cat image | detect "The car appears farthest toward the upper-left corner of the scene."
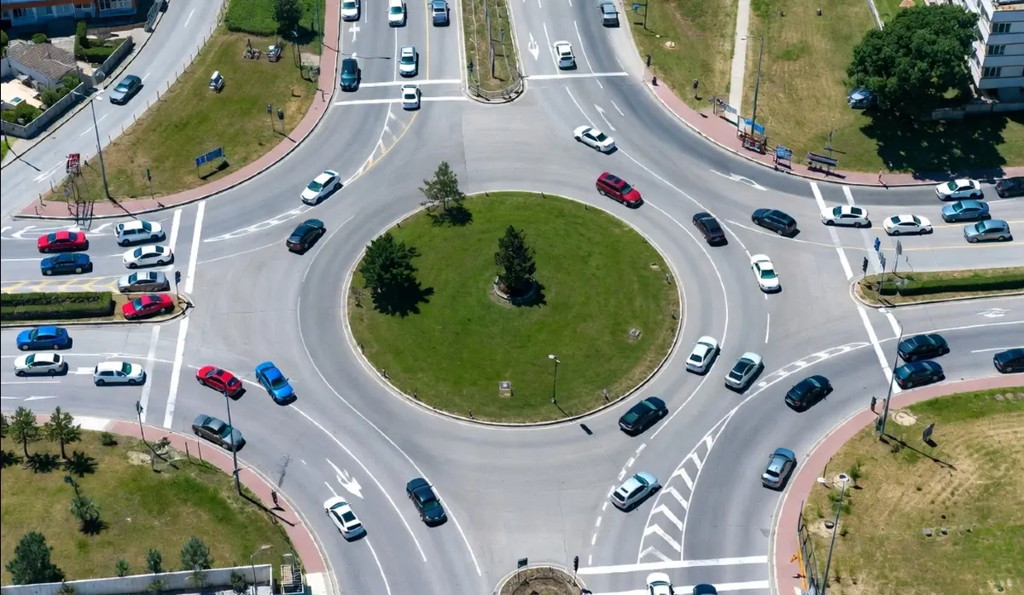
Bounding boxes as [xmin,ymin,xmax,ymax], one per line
[109,74,144,104]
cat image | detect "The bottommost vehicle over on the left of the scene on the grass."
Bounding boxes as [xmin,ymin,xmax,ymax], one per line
[123,296,174,321]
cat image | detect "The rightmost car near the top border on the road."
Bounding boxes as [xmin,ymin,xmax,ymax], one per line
[598,0,618,25]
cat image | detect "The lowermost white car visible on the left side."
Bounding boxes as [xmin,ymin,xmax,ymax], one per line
[323,499,367,540]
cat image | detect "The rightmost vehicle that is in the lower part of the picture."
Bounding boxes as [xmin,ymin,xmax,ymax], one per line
[994,349,1024,373]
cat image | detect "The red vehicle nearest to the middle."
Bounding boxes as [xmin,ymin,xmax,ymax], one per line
[595,173,644,206]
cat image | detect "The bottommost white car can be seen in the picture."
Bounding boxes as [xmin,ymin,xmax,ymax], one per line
[648,573,672,595]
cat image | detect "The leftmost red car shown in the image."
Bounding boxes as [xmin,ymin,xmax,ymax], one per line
[39,232,88,255]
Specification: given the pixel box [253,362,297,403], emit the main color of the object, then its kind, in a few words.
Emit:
blue car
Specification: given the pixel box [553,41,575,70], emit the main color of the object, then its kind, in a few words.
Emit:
white car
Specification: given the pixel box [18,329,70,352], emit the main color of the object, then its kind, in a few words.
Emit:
blue car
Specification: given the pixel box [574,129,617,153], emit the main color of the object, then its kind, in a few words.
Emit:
white car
